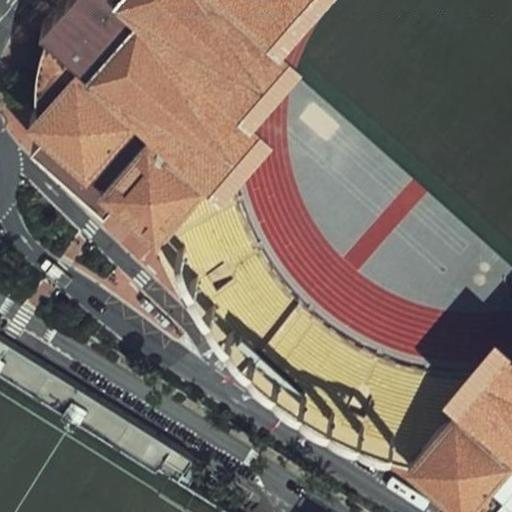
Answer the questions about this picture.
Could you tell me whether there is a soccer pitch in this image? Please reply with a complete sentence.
Yes, the photo shows a soccer pitch.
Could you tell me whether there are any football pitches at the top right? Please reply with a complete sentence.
Yes, you'll find a football pitch at the top right.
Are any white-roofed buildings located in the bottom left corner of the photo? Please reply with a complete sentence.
Yes, you'll find a white-roofed building in the bottom left corner of the photo.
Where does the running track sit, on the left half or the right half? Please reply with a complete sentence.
It is on the right.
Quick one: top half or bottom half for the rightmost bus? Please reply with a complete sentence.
The rightmost bus is in the bottom half of the image.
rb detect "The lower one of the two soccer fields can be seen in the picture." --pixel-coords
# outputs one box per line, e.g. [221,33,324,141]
[0,380,217,512]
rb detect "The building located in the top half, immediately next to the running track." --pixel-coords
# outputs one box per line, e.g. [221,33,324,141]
[28,0,338,248]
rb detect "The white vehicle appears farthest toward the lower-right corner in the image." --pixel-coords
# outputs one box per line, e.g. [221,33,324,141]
[387,478,431,512]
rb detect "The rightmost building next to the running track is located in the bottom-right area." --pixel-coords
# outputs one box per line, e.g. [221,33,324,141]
[405,346,512,512]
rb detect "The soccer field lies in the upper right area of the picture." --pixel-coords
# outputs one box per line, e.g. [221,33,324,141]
[296,0,512,262]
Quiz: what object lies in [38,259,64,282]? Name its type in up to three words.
truck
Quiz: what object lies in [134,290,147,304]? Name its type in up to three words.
vehicle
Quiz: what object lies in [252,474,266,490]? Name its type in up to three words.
car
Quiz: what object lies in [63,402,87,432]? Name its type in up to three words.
building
